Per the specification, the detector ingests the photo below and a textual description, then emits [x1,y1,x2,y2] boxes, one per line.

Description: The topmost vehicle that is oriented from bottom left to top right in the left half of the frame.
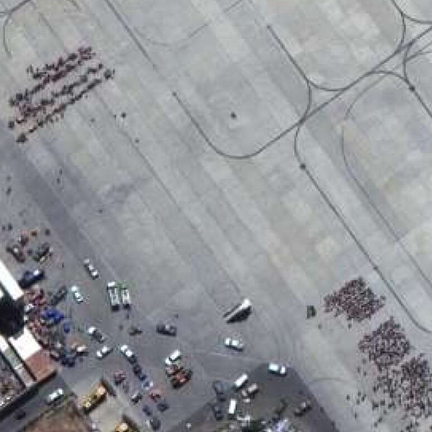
[32,244,51,261]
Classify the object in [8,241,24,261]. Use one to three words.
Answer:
vehicle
